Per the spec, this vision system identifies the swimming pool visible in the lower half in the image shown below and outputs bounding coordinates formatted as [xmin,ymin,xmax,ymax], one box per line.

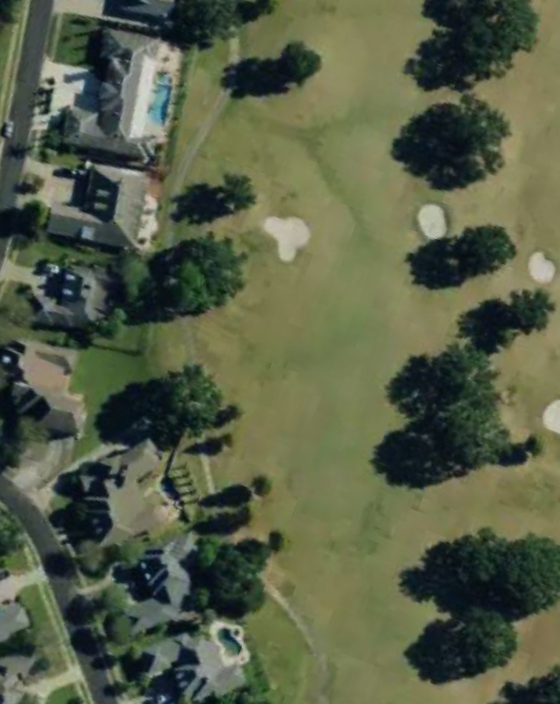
[210,621,249,665]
